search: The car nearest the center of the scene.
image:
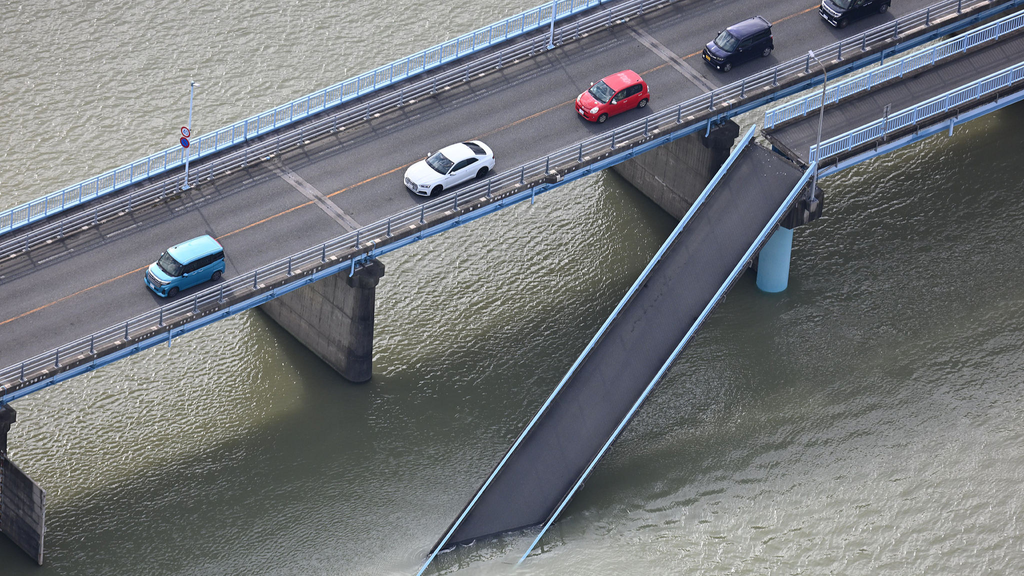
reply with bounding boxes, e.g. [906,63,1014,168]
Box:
[402,140,498,196]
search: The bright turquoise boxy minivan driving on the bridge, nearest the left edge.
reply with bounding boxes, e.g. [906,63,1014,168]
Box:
[142,235,225,298]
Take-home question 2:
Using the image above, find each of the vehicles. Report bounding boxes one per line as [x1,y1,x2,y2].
[701,15,773,73]
[402,140,498,196]
[142,235,225,298]
[818,0,889,28]
[573,68,651,124]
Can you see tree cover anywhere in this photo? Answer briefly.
No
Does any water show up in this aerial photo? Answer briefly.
Yes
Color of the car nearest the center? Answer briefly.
white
